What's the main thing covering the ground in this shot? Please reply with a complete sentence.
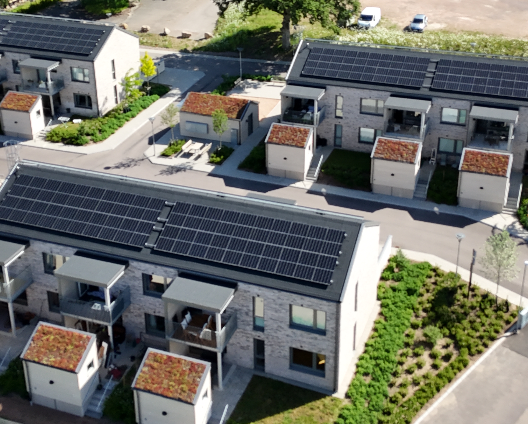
The bulk of the photo consists of buildings.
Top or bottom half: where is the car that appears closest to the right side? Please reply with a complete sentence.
The car that appears closest to the right side is in the top half of the image.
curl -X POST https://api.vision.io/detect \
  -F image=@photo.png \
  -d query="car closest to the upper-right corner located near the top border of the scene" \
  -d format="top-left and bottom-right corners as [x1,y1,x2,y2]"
[409,10,429,29]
